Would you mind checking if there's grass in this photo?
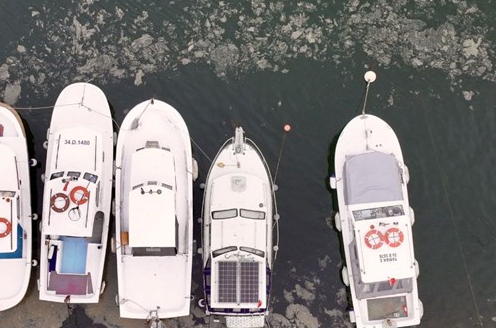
No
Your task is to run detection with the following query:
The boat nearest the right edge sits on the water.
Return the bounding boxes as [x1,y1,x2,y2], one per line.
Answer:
[330,113,425,328]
